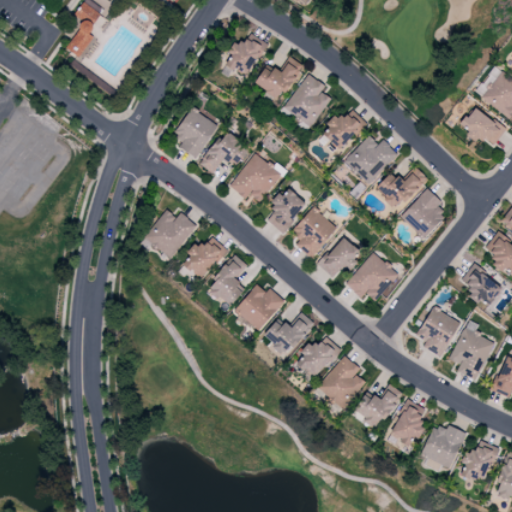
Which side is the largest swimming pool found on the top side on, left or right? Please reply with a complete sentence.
You can find the largest swimming pool found on the top side on the left side of the picture.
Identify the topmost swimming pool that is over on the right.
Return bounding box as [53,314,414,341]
[310,144,330,162]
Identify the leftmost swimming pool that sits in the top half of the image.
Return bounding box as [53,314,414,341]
[95,25,142,76]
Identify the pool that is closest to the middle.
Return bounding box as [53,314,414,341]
[330,198,350,218]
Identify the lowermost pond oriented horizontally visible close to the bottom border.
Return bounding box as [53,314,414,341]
[139,436,318,512]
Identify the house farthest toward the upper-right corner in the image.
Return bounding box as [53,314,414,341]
[480,68,512,119]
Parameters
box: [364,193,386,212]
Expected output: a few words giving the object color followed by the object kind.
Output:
blue swimming pool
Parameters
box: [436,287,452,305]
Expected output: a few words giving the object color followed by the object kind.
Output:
blue swimming pool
